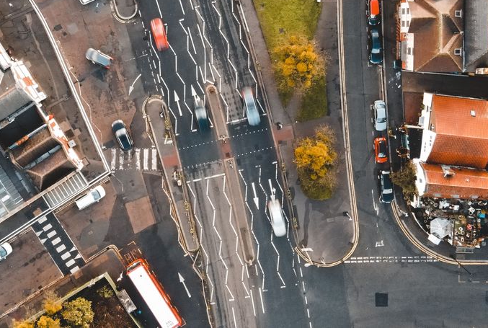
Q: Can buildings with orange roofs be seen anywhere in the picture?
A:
Yes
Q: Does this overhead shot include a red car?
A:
Yes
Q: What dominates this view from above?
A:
paved ground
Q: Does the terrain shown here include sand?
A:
No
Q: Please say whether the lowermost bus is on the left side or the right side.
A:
left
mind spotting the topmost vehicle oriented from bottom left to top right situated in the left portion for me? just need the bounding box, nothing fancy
[72,184,107,213]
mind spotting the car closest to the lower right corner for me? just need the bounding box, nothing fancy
[378,169,396,204]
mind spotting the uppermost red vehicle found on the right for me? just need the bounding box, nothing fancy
[366,0,382,24]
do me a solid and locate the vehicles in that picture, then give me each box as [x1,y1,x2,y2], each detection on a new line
[72,184,107,213]
[110,117,133,152]
[85,46,115,69]
[0,239,16,260]
[378,169,396,204]
[241,88,260,123]
[372,100,389,130]
[117,257,180,328]
[192,97,211,133]
[372,136,388,163]
[267,198,286,233]
[151,18,168,48]
[366,0,382,24]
